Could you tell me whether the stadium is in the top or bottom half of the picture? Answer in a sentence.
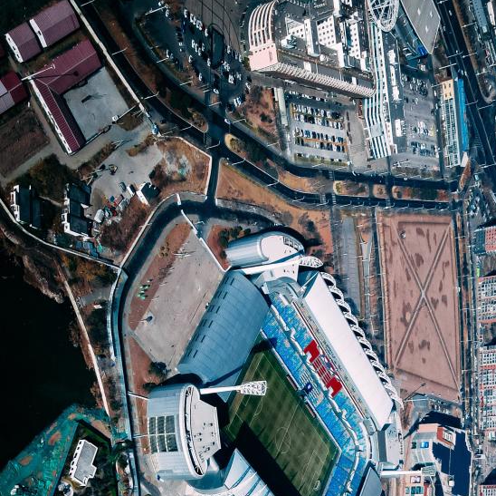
The bottom half of the photo is where the stadium is.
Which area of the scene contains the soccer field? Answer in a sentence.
Look in the bottom portion of the view to spot the soccer field.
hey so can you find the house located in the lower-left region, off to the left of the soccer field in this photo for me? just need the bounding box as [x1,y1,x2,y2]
[62,439,99,487]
